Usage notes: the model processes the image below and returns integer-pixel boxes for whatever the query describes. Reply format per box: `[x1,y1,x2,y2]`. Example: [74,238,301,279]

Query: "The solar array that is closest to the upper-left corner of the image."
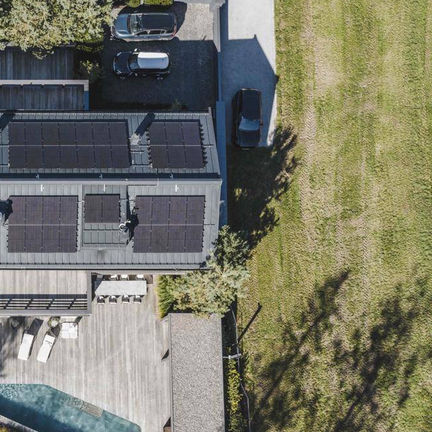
[7,122,131,169]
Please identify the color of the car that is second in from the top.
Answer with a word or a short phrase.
black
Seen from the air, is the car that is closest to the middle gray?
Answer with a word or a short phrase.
No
